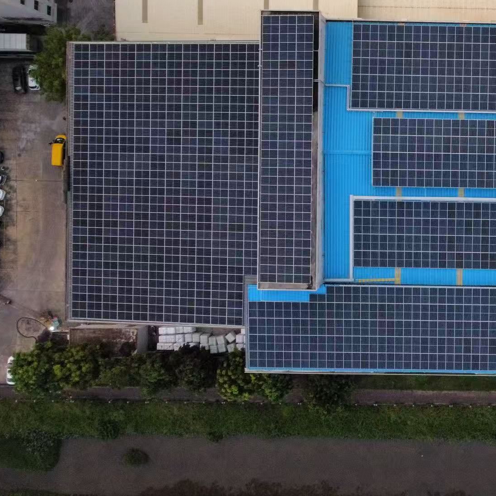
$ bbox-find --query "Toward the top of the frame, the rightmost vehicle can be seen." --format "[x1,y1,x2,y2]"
[47,136,66,169]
